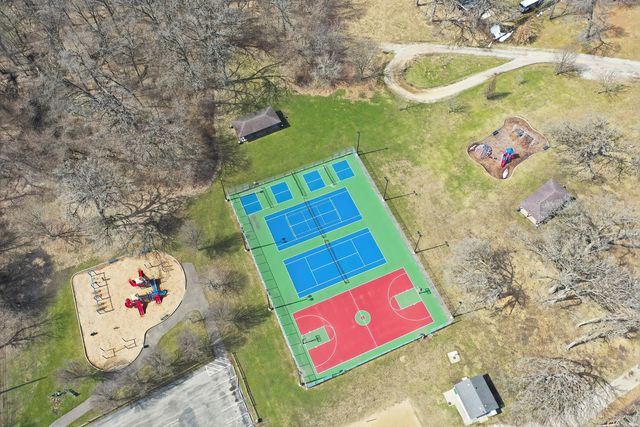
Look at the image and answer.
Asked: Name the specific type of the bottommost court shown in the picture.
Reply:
basketball court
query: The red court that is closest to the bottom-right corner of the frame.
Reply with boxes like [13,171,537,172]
[292,268,434,373]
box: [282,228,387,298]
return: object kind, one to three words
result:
tennis court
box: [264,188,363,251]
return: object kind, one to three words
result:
tennis court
